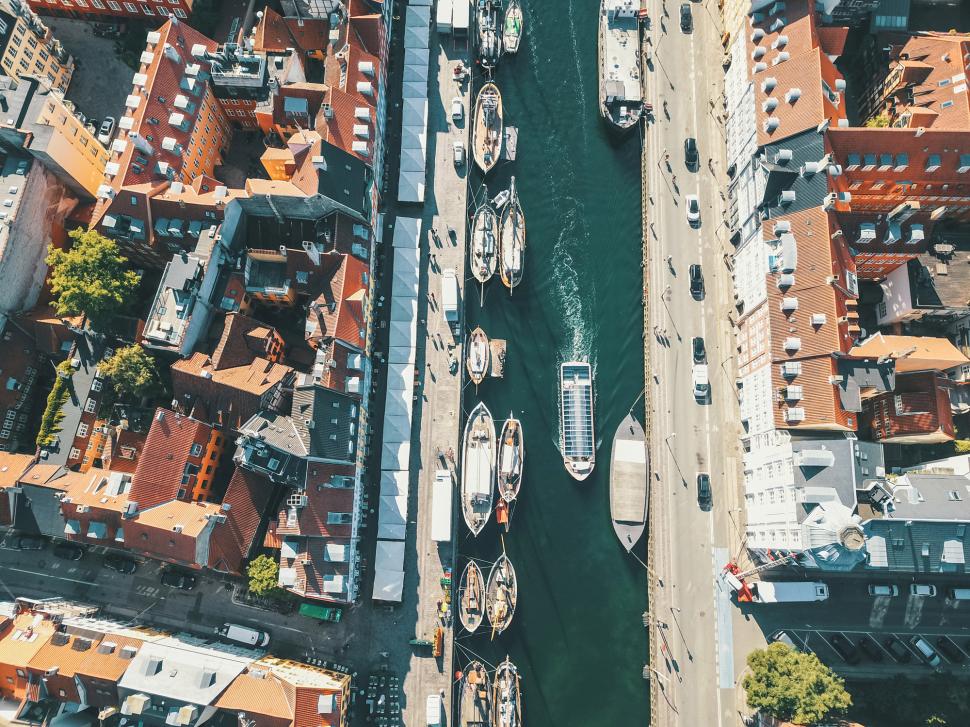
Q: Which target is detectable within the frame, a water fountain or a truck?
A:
truck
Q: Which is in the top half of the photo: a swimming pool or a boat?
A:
boat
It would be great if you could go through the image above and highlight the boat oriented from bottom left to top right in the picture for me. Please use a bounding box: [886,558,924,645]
[493,192,508,212]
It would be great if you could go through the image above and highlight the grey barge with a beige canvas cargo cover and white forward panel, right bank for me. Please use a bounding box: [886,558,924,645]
[610,411,650,554]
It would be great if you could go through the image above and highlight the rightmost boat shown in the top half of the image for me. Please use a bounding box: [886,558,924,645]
[600,0,650,134]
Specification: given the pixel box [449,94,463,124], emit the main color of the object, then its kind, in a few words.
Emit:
white vehicle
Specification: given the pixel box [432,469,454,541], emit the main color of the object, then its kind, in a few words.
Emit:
white truck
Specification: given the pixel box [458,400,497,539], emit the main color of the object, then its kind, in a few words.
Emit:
white boat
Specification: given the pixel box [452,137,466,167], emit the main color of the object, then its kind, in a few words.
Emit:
white vehicle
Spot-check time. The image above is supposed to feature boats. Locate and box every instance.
[495,498,508,526]
[503,0,523,58]
[493,192,508,212]
[498,168,526,293]
[458,400,497,539]
[600,0,650,134]
[558,359,596,481]
[468,178,498,302]
[493,651,522,727]
[487,533,518,644]
[475,0,503,77]
[458,560,485,634]
[466,321,490,397]
[457,659,492,727]
[474,77,503,177]
[496,409,525,524]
